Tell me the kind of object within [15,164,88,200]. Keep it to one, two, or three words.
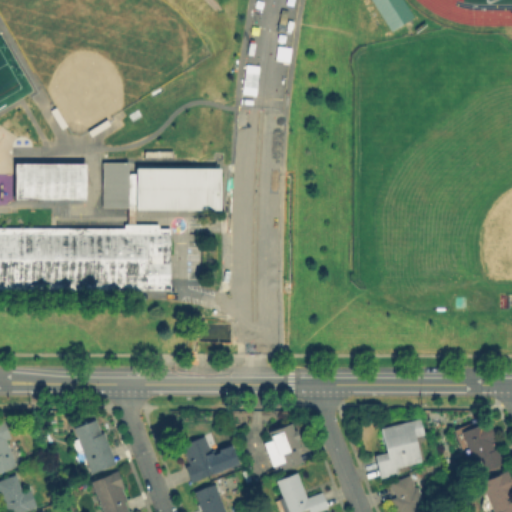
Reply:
building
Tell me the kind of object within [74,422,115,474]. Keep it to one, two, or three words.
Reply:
house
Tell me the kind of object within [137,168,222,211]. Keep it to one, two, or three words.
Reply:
building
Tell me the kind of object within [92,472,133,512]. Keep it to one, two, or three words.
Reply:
house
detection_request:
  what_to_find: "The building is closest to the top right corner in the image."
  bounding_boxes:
[375,0,415,31]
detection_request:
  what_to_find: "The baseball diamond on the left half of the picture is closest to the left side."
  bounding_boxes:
[0,0,210,134]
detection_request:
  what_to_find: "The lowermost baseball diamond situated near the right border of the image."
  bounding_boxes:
[351,28,512,310]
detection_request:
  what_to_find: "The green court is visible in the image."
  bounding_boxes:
[0,35,33,110]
